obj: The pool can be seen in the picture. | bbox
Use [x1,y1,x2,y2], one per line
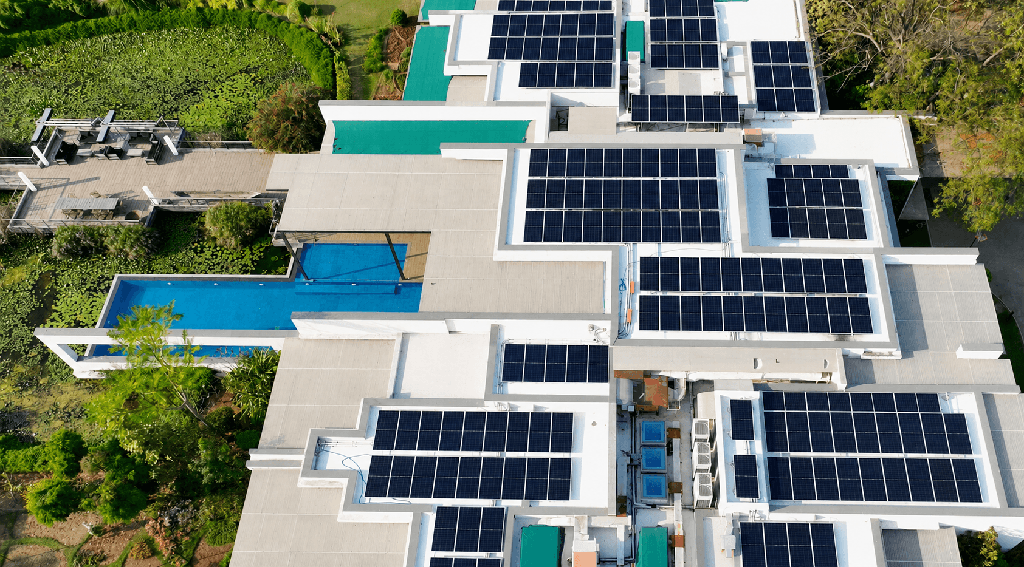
[88,240,424,369]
